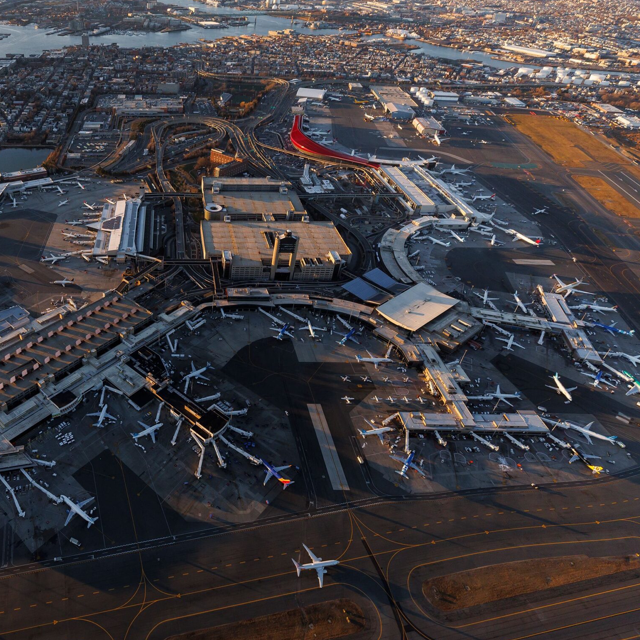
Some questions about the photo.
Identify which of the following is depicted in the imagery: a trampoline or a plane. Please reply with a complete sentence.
Visible in the photo is a plane.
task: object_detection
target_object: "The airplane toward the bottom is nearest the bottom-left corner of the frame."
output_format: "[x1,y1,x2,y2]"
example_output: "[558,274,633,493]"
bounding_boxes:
[62,497,100,529]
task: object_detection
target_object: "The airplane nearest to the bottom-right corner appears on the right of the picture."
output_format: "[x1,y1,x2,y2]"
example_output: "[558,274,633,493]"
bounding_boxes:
[571,449,605,473]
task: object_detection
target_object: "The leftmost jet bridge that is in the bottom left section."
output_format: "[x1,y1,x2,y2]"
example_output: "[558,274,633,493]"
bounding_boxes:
[0,474,26,520]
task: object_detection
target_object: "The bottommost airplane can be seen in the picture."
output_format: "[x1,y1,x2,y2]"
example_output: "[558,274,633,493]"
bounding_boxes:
[291,543,338,587]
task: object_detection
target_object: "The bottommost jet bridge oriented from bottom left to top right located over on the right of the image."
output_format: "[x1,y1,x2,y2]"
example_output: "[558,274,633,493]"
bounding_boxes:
[380,410,402,427]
